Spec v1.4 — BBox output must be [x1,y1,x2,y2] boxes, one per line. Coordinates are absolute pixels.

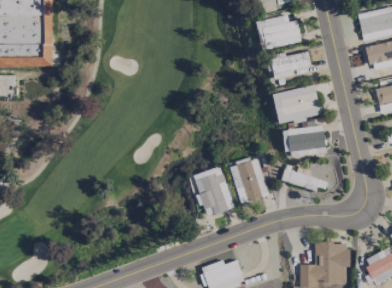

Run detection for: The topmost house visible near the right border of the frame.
[358,6,392,41]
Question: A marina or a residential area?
residential area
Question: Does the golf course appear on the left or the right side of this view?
left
